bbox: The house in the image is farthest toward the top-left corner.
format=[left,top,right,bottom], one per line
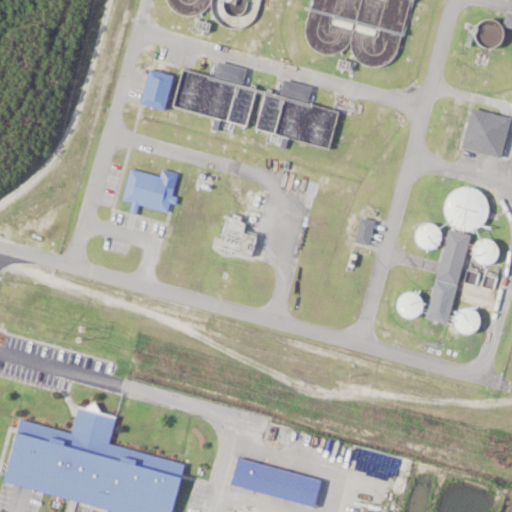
[139,68,176,112]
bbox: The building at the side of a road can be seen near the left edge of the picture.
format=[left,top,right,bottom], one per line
[4,401,186,512]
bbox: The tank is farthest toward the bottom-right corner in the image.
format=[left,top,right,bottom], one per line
[450,306,482,336]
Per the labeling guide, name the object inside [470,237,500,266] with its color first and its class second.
white storage tank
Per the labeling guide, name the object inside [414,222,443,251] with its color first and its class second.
white storage tank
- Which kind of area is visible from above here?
industrial area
